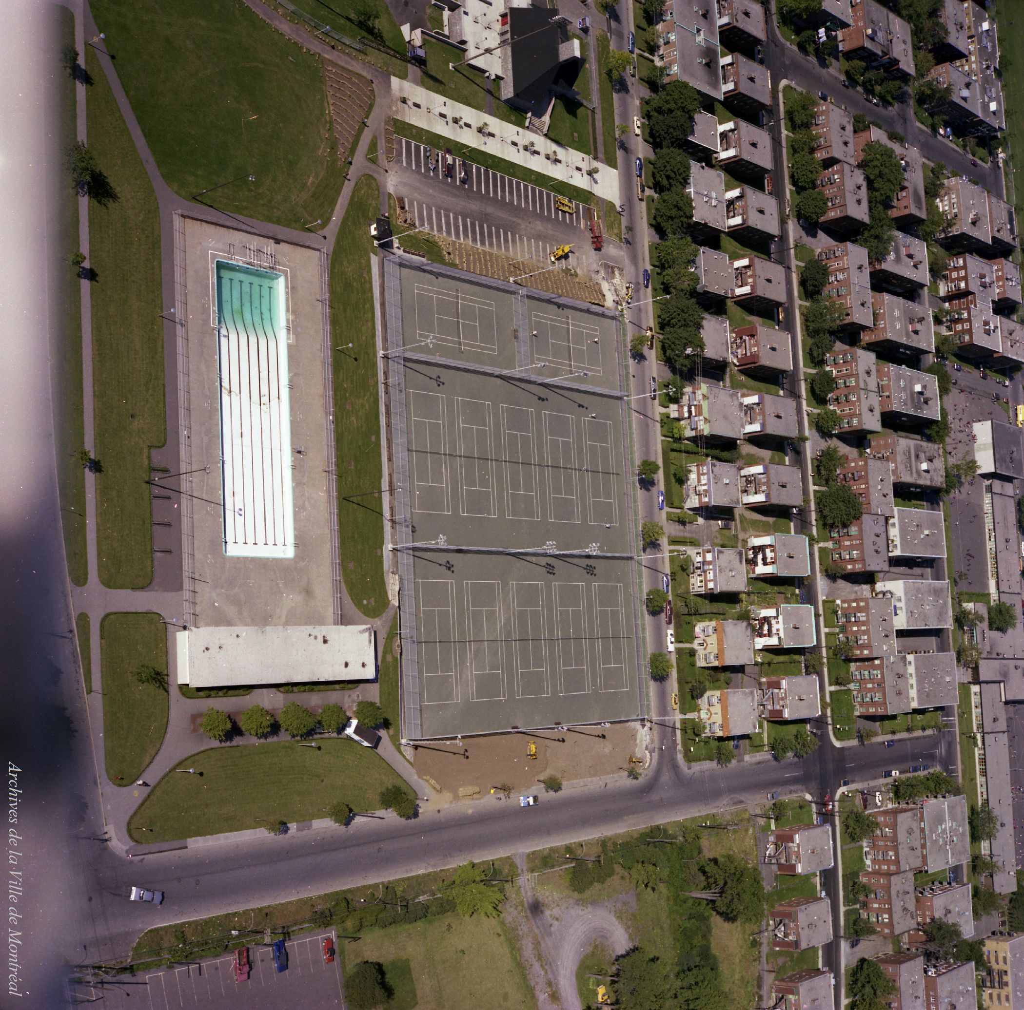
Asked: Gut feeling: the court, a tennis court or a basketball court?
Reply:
tennis court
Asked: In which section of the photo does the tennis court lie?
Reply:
center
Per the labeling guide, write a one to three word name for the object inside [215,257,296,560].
swimming pool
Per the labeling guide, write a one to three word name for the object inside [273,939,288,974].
car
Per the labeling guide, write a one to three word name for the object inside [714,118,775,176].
house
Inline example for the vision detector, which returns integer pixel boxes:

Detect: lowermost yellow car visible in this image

[596,984,610,1005]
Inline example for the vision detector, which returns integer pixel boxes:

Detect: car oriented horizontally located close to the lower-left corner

[131,888,165,905]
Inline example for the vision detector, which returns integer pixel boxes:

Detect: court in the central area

[385,259,641,739]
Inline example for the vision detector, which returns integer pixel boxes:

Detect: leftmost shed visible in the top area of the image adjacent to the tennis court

[365,216,394,251]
